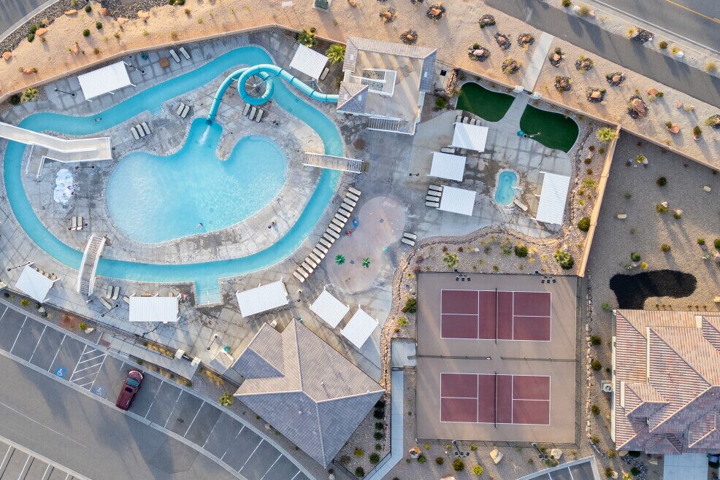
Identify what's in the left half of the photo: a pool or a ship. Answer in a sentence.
The feature located in the left half of the photo is a pool.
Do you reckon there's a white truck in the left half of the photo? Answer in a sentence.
No, the scene shows no white truck in the left half of the photo.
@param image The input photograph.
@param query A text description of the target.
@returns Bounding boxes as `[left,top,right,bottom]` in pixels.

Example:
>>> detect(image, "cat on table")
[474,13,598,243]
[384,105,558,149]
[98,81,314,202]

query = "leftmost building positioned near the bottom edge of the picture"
[232,319,385,470]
